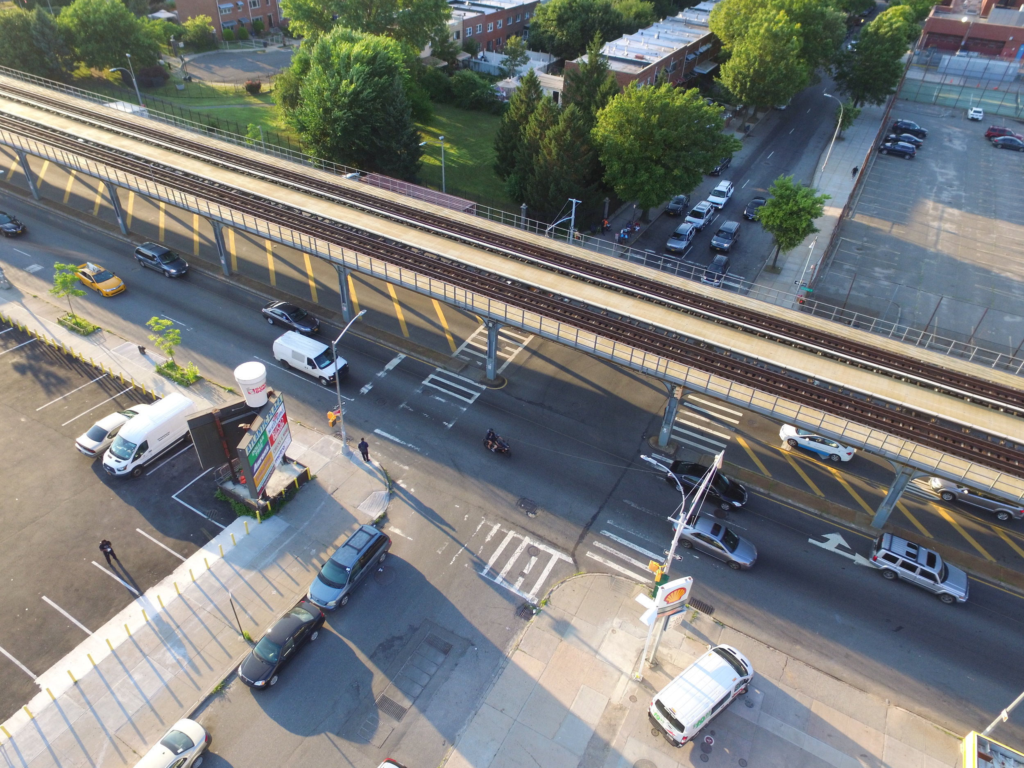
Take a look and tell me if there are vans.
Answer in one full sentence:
Yes, the picture does show a van.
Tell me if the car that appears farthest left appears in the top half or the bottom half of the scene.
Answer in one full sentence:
The car that appears farthest left is in the top half of the image.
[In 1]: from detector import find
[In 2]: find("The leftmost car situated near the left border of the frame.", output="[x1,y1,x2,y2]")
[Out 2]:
[0,210,26,236]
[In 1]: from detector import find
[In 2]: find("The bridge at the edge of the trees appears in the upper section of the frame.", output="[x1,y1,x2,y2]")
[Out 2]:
[0,64,1024,538]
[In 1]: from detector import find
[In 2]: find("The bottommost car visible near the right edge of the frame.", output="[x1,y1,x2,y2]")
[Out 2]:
[875,531,979,607]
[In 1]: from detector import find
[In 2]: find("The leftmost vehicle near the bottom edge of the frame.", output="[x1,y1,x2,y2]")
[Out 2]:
[125,718,208,768]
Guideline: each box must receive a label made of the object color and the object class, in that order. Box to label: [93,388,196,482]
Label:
white van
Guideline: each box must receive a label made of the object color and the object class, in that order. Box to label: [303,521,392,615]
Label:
blue car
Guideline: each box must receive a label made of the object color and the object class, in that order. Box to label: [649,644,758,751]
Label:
white van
